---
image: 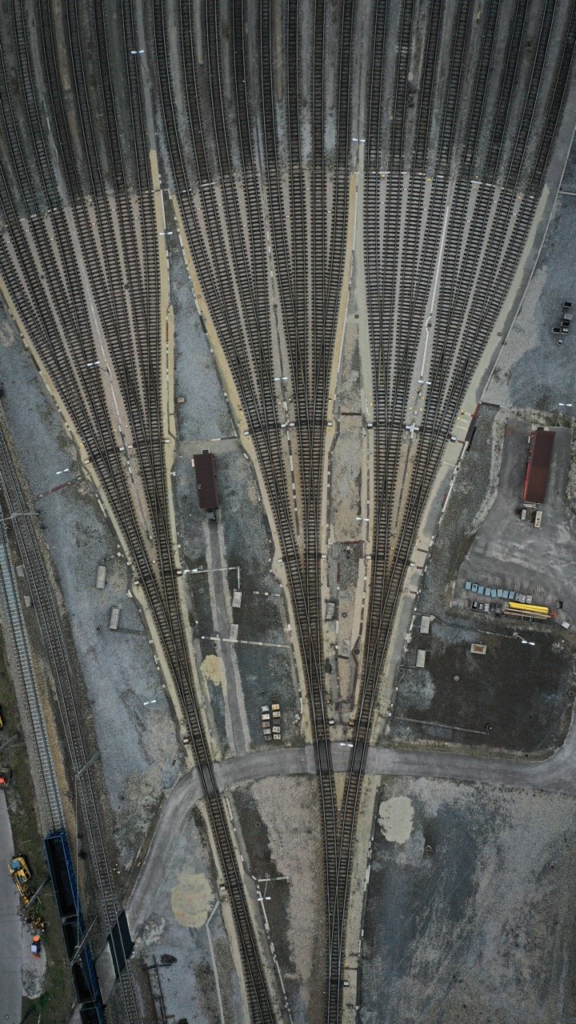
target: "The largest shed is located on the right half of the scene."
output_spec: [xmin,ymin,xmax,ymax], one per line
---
[518,431,555,503]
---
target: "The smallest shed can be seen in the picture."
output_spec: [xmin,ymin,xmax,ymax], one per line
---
[194,454,218,510]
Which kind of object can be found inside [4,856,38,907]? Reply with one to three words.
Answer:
work vehicle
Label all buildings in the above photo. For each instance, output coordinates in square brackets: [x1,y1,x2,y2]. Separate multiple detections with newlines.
[518,431,555,503]
[194,454,218,510]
